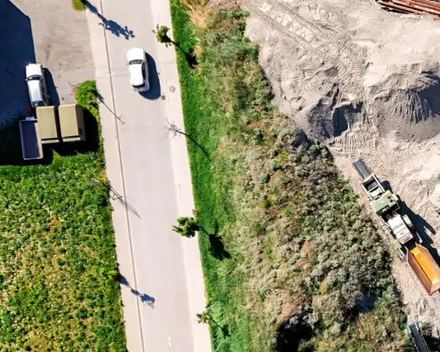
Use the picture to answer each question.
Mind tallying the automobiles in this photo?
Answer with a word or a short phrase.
2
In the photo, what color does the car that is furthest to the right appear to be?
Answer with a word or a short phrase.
white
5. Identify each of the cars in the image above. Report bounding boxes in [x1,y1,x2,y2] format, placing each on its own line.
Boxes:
[122,45,151,91]
[21,61,49,108]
